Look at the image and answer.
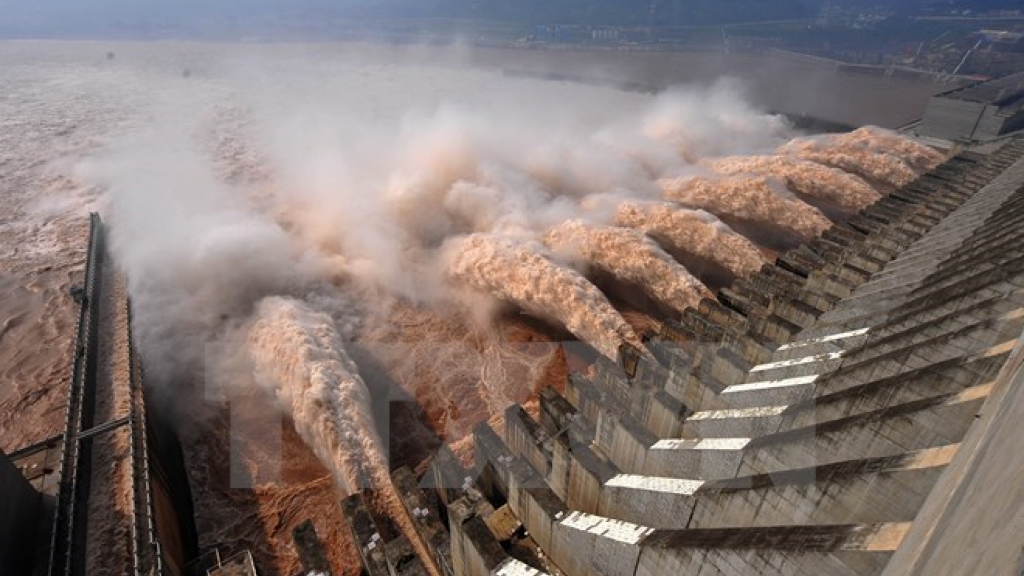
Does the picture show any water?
Yes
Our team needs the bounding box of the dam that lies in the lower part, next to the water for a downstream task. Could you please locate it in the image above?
[256,125,1024,576]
